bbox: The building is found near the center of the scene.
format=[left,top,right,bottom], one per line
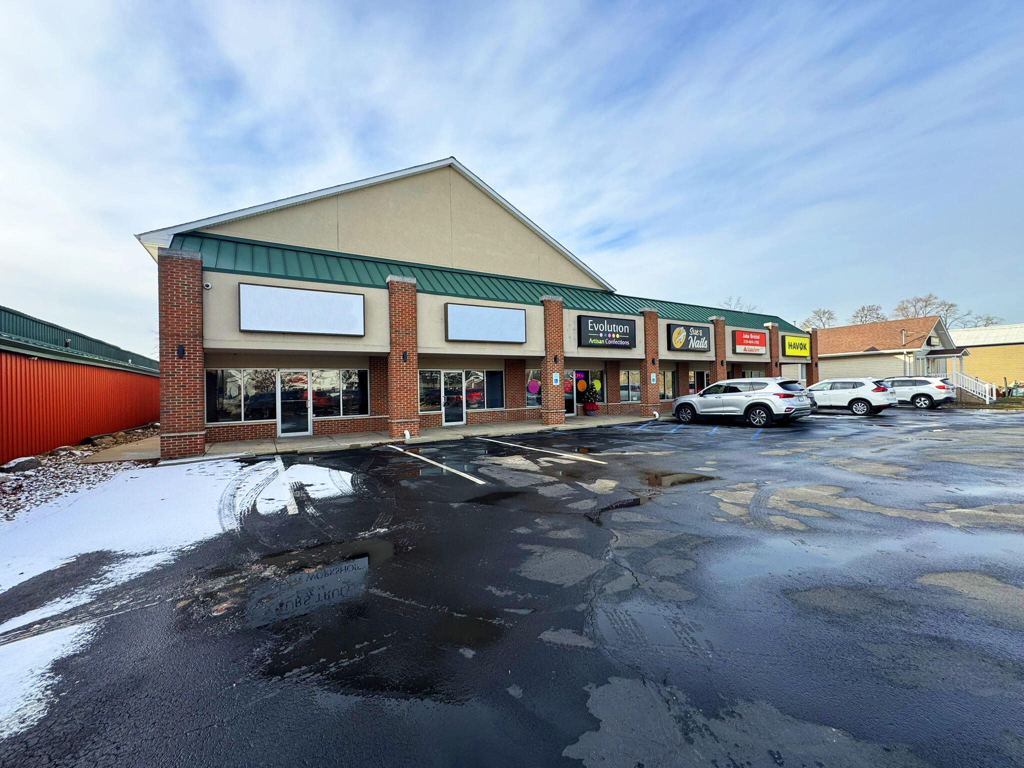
[131,154,819,457]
